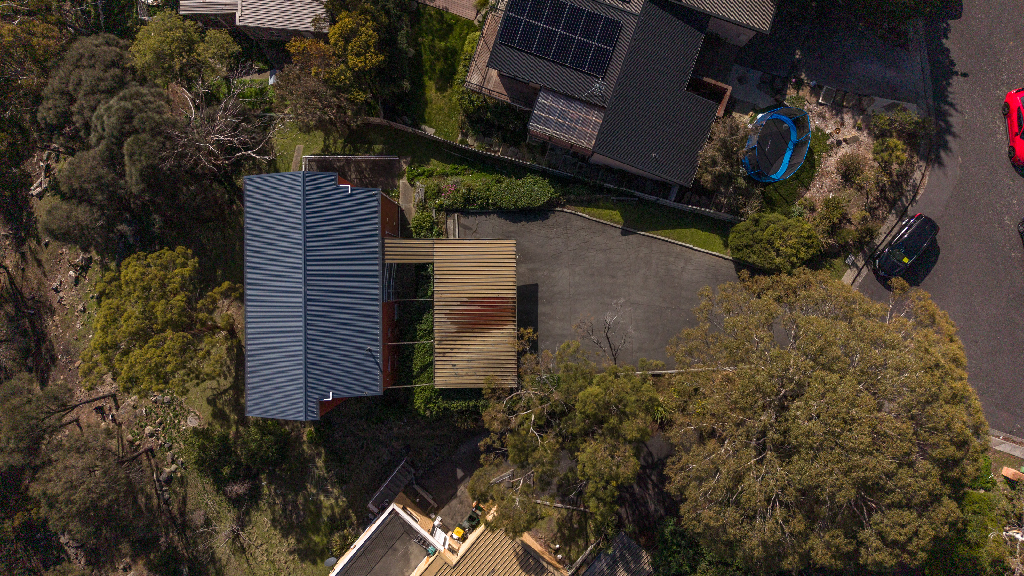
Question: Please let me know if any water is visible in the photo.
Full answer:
No, the picture contains no water.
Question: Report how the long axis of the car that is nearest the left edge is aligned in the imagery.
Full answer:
In this picture, the car that is nearest the left edge lies on a diagonal.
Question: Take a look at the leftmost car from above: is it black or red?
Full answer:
The leftmost car is black.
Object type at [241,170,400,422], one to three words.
house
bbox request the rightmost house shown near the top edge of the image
[464,0,780,188]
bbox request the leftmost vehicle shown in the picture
[867,208,943,283]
